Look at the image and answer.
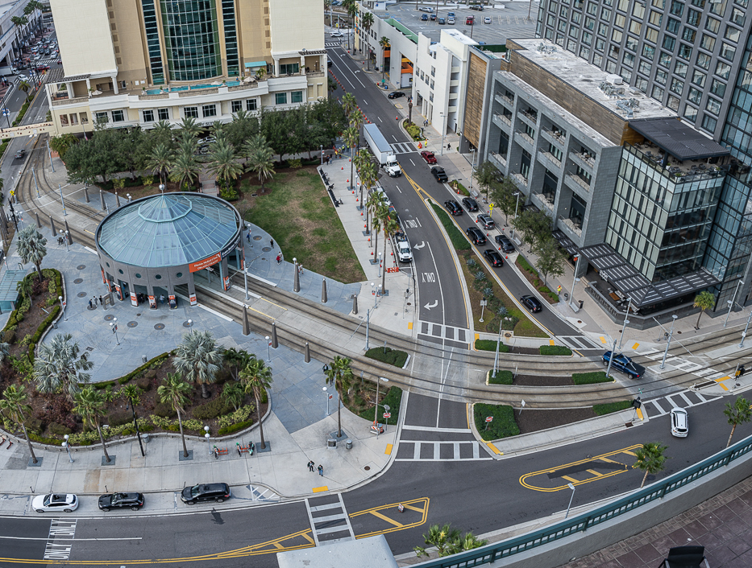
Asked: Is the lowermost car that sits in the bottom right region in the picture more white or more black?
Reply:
white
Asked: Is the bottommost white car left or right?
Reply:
left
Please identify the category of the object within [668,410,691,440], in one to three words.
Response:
car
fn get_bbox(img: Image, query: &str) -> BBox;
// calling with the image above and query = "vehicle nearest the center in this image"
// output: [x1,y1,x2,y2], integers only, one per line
[397,241,412,263]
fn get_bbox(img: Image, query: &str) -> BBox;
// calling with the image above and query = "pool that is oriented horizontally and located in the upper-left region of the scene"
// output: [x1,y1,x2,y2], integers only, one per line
[146,80,240,93]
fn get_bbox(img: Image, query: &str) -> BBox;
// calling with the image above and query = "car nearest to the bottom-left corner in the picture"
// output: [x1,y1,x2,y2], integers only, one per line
[32,492,79,516]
